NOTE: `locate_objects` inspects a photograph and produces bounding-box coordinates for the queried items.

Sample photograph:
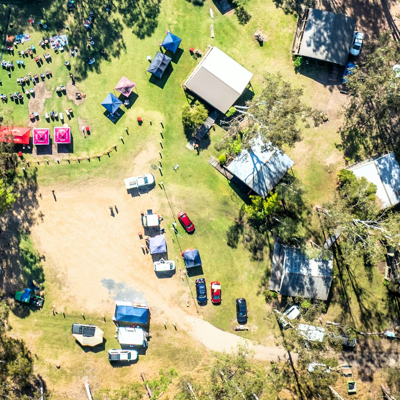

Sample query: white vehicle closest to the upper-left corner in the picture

[126,174,153,189]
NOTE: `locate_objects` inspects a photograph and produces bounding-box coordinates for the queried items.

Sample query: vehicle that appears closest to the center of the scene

[178,211,194,233]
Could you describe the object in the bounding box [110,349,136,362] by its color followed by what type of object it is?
white vehicle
